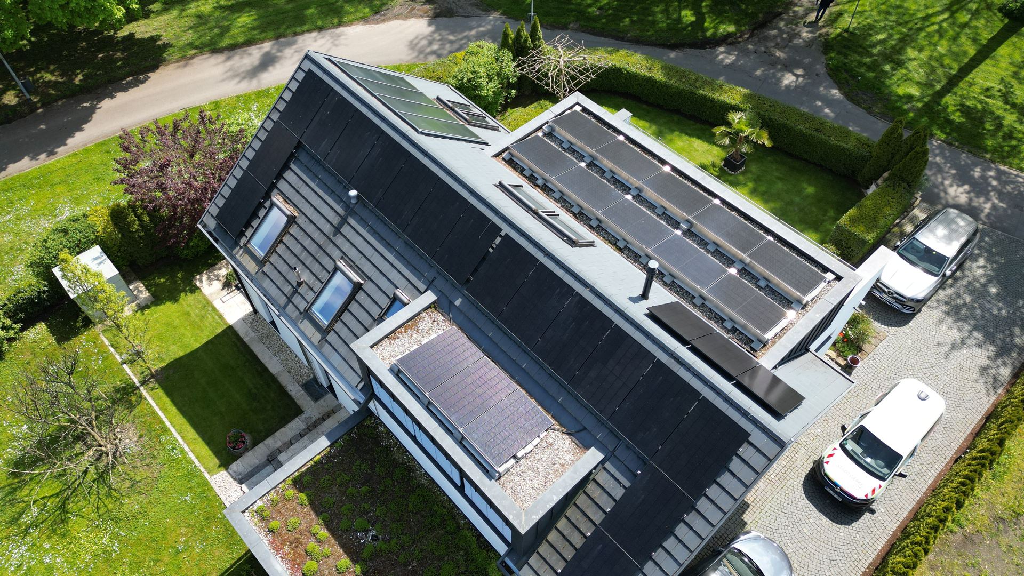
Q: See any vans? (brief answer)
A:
Yes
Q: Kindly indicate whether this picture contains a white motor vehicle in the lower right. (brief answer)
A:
Yes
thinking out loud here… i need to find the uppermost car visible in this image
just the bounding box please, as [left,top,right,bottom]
[868,210,982,319]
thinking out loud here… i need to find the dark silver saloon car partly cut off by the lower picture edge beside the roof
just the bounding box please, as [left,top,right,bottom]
[690,525,790,576]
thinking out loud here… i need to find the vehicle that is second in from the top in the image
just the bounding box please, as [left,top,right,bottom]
[809,376,945,515]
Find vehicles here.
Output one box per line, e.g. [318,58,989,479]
[690,525,790,576]
[809,376,945,515]
[868,210,982,319]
